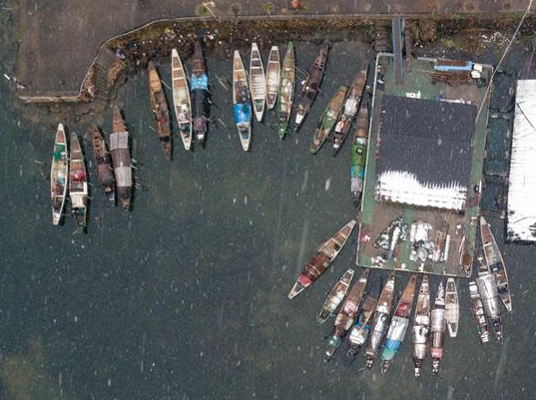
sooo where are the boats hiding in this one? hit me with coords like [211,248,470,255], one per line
[325,268,370,364]
[49,121,68,225]
[68,131,88,232]
[477,250,505,353]
[412,273,431,383]
[293,40,329,130]
[277,40,308,139]
[481,216,513,313]
[249,40,266,121]
[110,104,152,216]
[347,273,384,364]
[266,44,281,108]
[446,278,460,339]
[170,46,193,149]
[310,84,347,154]
[89,123,117,207]
[352,98,370,213]
[368,271,396,371]
[145,60,173,159]
[469,281,490,344]
[430,282,447,379]
[231,48,258,151]
[382,273,417,379]
[332,59,369,156]
[288,219,357,300]
[190,40,226,152]
[317,268,353,325]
